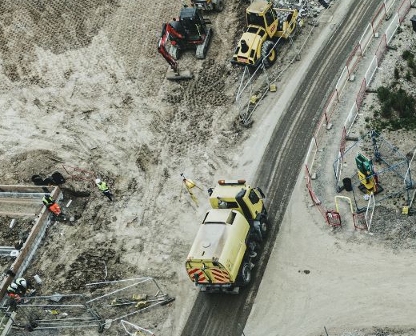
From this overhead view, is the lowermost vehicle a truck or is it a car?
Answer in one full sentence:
I'd say the lowermost vehicle is a truck.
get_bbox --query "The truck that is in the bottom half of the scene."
[183,176,270,303]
